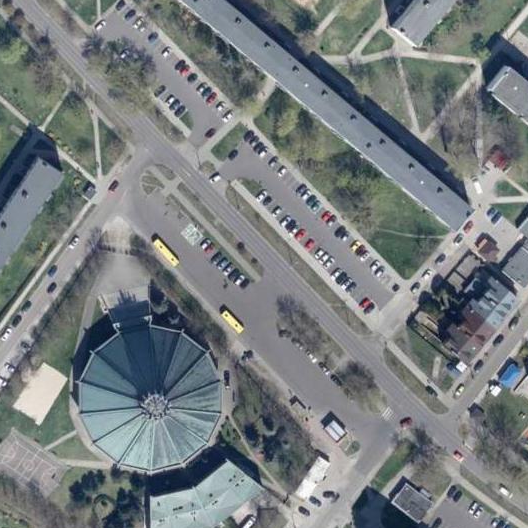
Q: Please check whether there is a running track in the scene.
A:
No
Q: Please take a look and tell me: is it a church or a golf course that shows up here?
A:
church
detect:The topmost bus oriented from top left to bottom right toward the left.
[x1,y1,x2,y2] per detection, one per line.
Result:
[151,237,180,265]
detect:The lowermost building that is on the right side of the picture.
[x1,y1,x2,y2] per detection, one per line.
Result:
[392,482,433,523]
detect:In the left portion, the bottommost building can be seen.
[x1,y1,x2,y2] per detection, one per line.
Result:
[150,460,264,528]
